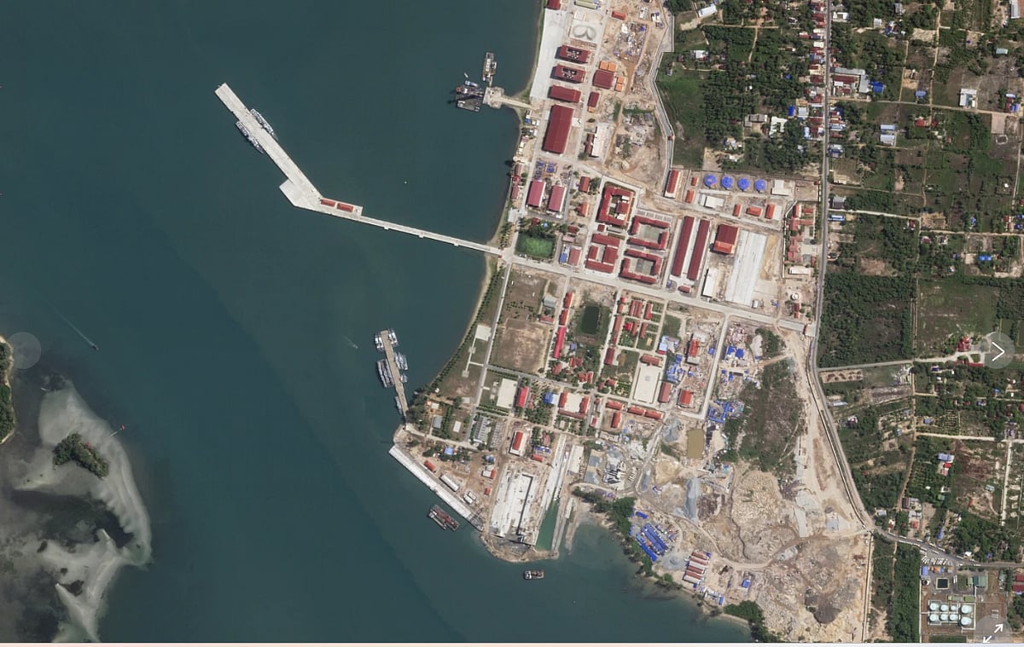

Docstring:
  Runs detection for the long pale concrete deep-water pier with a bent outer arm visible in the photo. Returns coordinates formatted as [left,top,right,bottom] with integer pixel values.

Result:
[215,82,363,220]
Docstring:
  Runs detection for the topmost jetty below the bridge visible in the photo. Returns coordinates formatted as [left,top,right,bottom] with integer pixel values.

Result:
[381,330,409,424]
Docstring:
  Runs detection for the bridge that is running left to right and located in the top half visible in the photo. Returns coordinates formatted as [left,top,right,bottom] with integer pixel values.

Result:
[359,215,504,255]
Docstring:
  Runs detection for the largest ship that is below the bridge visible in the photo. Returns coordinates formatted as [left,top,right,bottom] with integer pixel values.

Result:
[431,505,460,531]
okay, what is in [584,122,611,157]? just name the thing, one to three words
building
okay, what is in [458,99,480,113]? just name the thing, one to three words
ship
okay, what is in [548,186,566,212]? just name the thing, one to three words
building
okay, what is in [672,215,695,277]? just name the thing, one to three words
shed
